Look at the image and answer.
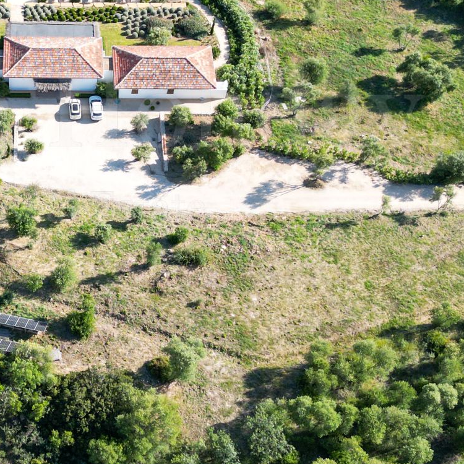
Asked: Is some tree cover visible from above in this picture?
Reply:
Yes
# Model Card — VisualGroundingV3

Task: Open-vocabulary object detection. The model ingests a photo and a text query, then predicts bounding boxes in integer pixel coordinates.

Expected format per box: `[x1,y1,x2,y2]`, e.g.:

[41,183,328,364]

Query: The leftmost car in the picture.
[67,100,82,122]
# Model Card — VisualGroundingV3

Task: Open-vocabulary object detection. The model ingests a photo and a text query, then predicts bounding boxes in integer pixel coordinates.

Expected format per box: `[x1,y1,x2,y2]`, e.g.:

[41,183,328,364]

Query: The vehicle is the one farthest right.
[88,97,103,122]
